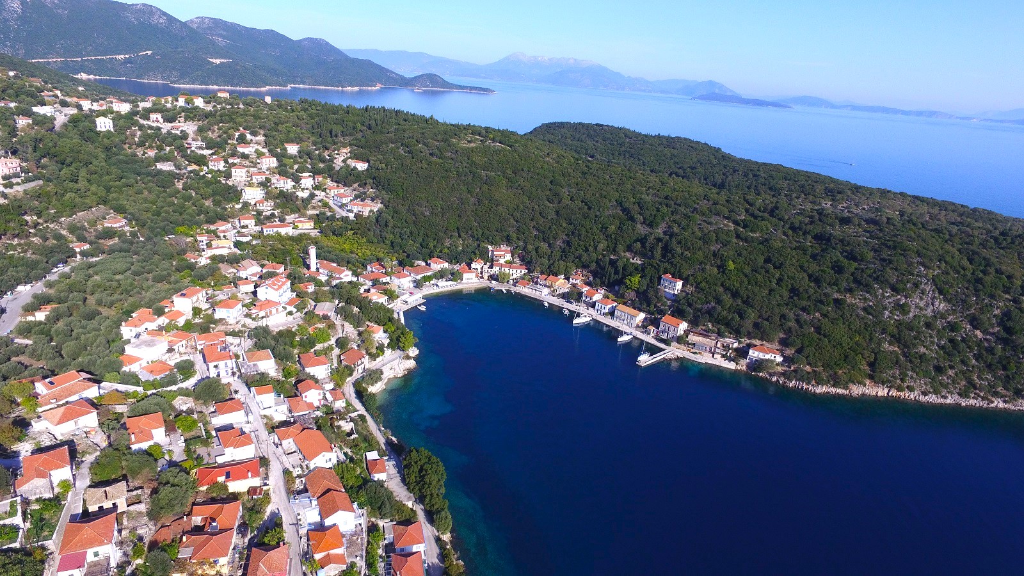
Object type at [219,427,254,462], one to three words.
house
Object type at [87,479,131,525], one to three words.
house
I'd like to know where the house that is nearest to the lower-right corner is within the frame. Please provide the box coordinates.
[749,345,779,366]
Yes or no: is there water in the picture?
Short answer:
Yes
